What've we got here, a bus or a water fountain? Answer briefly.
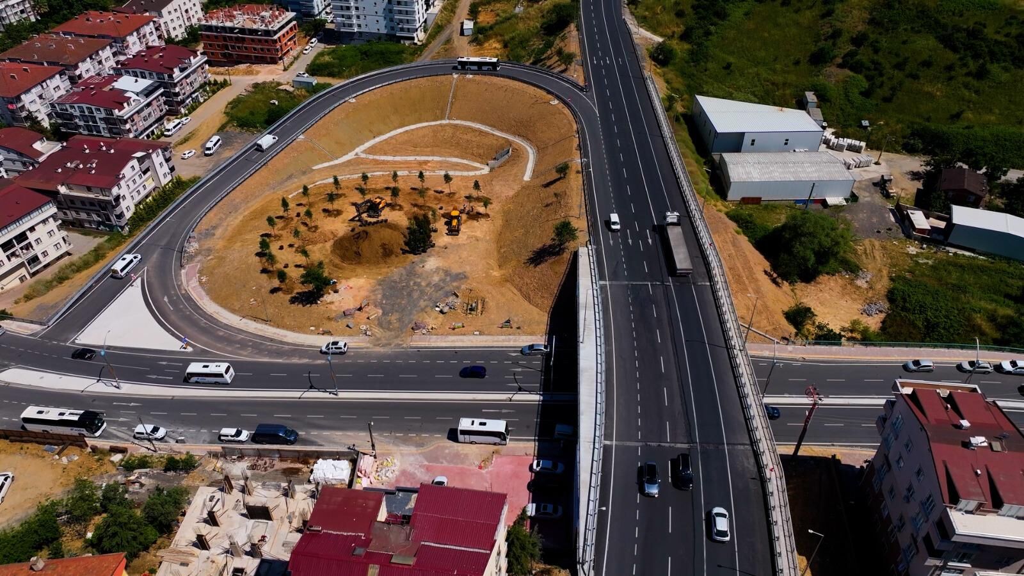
bus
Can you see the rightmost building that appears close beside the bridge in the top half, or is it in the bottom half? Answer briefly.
bottom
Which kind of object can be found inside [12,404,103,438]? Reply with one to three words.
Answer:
bus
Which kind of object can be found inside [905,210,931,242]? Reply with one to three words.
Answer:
shed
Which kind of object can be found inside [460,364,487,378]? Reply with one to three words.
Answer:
car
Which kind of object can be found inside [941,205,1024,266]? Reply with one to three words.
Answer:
building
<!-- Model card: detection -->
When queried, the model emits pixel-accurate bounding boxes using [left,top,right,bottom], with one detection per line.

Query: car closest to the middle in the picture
[520,342,550,356]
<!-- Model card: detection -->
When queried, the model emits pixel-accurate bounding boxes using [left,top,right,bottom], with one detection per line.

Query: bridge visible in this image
[571,78,800,576]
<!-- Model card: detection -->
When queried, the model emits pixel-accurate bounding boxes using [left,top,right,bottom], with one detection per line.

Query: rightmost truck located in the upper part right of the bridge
[875,174,901,196]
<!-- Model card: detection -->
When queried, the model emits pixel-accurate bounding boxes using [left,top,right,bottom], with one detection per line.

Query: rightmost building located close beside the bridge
[855,375,1024,576]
